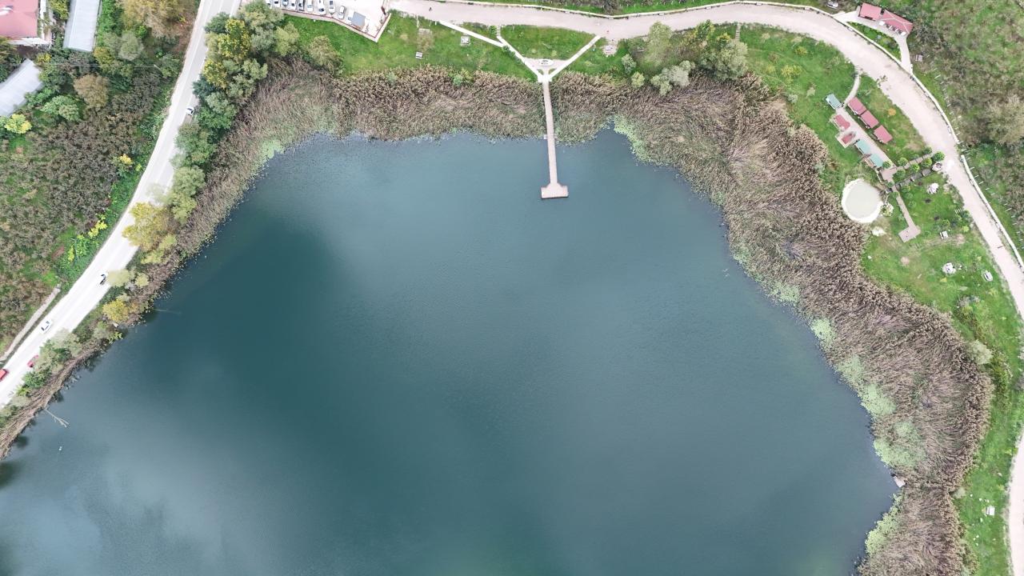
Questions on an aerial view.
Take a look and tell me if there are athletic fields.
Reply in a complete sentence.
No, I can see no athletic field in this picture.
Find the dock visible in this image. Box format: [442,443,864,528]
[541,80,568,198]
